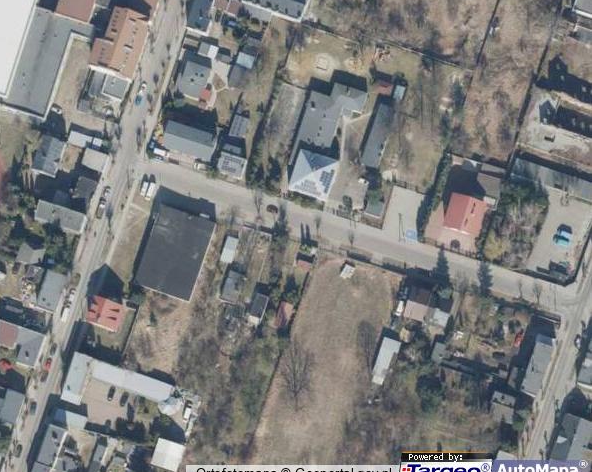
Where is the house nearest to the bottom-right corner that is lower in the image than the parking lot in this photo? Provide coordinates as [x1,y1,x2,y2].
[552,414,592,472]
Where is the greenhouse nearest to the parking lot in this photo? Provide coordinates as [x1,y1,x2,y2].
[512,163,592,204]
